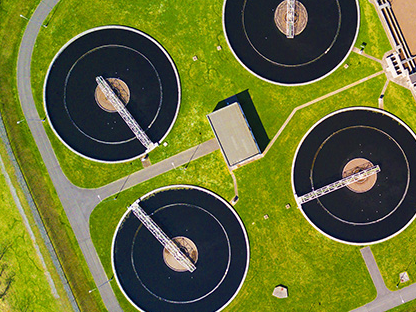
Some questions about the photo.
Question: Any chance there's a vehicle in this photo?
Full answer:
No, no vehicle can be seen from above.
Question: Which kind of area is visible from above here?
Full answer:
The area seen from above is an industrial area.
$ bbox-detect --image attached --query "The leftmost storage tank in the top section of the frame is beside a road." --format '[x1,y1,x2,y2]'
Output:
[44,25,182,163]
